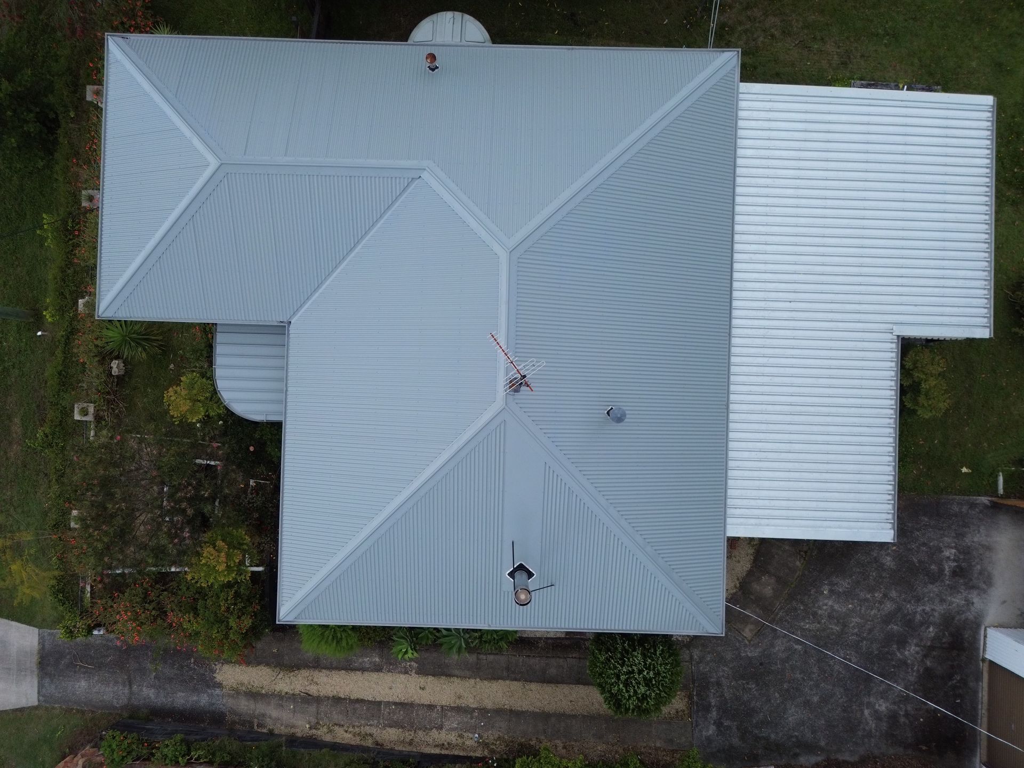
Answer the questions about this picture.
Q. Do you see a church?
No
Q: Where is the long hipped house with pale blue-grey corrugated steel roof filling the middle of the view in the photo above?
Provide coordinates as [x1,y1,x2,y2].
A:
[96,35,740,635]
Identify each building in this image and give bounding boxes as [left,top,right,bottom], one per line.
[985,628,1024,768]
[96,35,740,635]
